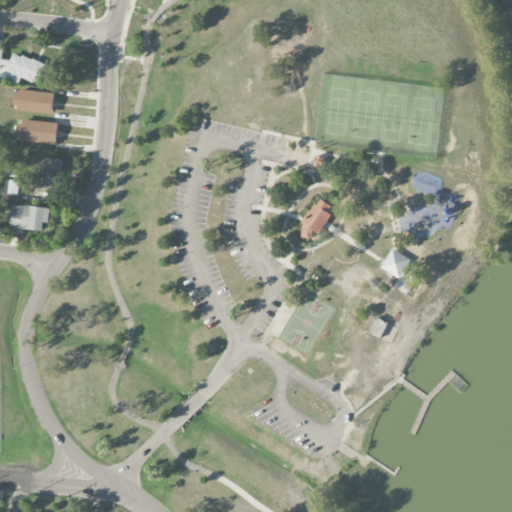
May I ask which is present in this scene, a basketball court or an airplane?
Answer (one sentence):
The one in the frame is a basketball court.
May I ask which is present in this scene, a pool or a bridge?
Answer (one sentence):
It is a bridge that can be seen here.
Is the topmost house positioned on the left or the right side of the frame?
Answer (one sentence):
It is on the left.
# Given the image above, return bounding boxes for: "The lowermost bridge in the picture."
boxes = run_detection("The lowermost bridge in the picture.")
[170,384,216,428]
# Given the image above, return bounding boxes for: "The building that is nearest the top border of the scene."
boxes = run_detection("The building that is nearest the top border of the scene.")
[0,53,44,85]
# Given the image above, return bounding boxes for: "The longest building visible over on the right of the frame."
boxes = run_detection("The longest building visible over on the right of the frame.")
[300,200,332,240]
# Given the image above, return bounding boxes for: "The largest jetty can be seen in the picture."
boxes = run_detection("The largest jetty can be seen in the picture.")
[403,370,456,434]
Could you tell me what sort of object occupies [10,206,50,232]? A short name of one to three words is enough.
house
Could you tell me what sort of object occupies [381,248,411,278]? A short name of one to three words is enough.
building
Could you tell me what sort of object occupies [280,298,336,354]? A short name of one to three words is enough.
basketball court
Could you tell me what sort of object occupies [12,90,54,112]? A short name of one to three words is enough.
house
